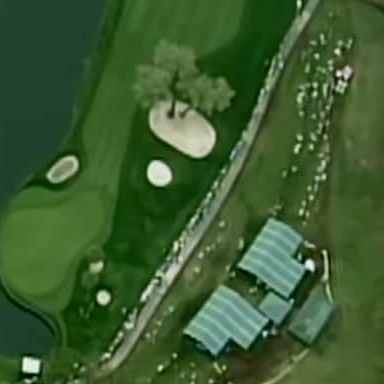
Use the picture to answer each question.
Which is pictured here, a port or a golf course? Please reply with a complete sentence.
The picture captures a golf course.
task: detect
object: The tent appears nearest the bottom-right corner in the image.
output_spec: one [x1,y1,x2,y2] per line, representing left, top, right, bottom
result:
[288,286,335,348]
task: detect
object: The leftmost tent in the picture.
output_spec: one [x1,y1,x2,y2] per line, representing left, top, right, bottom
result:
[259,294,292,330]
